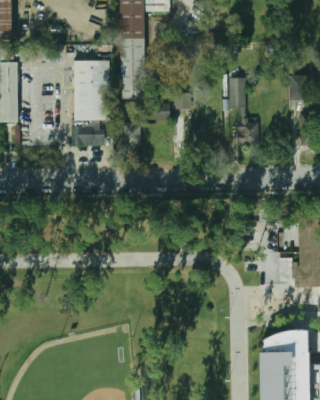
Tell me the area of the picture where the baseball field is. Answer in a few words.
bottom left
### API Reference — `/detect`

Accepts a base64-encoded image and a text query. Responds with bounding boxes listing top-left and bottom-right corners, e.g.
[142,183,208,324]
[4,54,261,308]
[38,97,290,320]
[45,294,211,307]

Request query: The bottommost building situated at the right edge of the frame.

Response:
[260,330,320,400]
